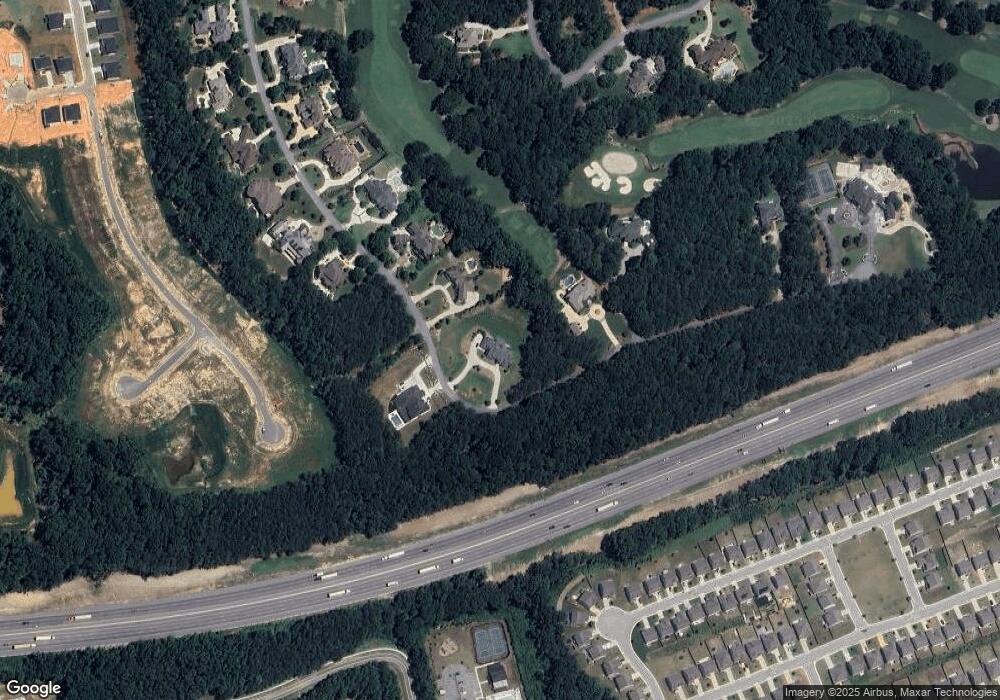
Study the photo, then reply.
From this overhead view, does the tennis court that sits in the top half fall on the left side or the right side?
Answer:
right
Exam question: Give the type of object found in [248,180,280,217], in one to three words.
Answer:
house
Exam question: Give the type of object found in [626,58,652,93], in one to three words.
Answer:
house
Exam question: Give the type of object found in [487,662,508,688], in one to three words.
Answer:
building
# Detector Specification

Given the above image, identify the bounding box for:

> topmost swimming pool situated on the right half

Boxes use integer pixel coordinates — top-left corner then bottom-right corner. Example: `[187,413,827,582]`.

[720,62,734,78]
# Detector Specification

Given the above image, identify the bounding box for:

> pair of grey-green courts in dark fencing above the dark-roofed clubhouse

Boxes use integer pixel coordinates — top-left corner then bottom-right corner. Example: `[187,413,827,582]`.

[473,622,510,663]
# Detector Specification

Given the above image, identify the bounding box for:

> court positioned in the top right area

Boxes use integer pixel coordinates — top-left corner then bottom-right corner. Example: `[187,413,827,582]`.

[806,163,838,201]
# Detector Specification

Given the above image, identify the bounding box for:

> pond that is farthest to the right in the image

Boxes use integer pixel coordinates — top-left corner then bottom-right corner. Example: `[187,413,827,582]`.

[951,145,1000,200]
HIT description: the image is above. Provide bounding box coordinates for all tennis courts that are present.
[473,622,510,663]
[806,163,838,201]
